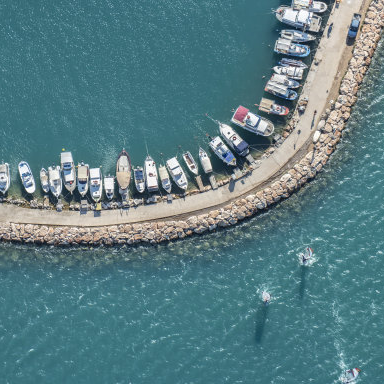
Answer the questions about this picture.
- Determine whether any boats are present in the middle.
Yes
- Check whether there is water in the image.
Yes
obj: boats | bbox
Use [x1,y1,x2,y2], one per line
[103,173,115,208]
[134,165,148,203]
[210,117,271,161]
[0,162,11,202]
[77,162,89,199]
[291,0,336,11]
[60,149,76,209]
[270,64,312,79]
[210,136,236,166]
[258,97,300,115]
[49,165,63,208]
[278,59,310,69]
[19,159,35,198]
[279,28,323,42]
[265,81,304,99]
[145,144,160,204]
[116,142,132,191]
[182,150,199,175]
[165,156,189,195]
[271,7,329,32]
[89,166,102,209]
[199,146,214,177]
[158,161,171,193]
[269,73,309,88]
[274,39,313,56]
[234,105,288,140]
[41,167,50,192]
